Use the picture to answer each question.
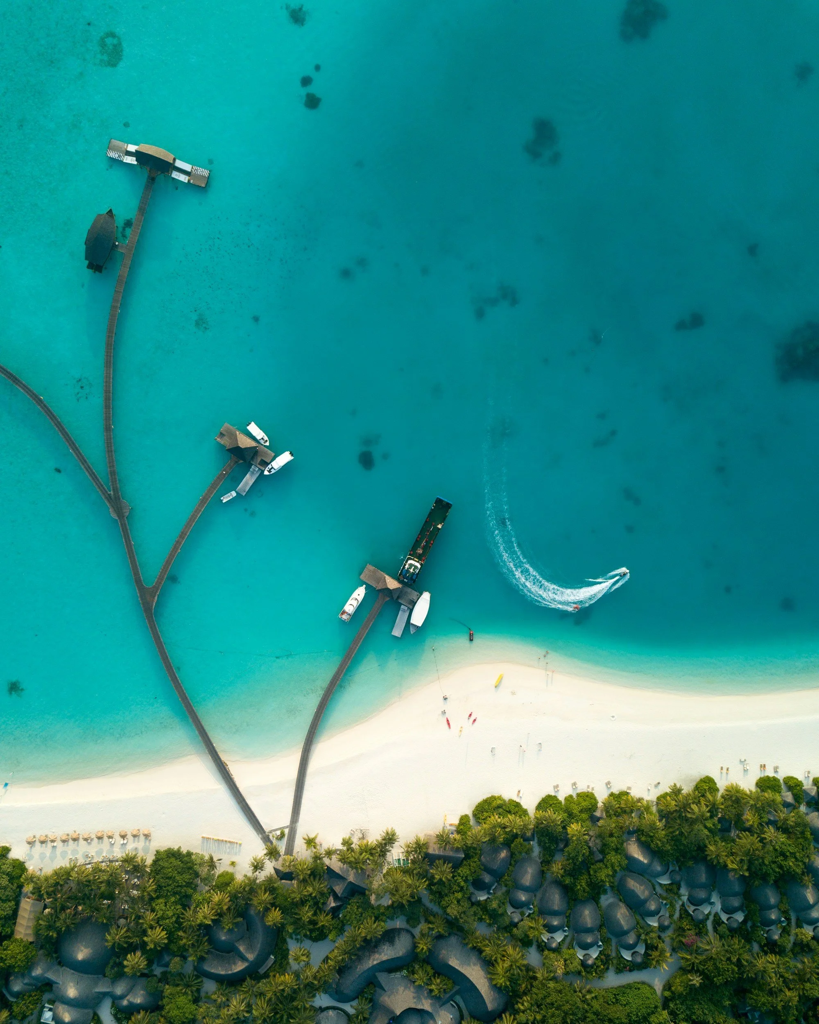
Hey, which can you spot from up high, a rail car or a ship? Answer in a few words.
ship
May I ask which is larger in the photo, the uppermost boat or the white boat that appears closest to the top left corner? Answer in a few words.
the uppermost boat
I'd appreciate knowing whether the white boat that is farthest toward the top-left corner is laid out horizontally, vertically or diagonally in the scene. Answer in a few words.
diagonally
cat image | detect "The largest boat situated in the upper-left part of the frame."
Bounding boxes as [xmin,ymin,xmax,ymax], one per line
[84,207,116,273]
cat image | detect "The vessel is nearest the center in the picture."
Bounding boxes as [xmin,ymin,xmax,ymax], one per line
[398,496,453,585]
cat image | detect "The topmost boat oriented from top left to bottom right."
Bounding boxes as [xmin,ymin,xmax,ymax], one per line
[245,420,269,445]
